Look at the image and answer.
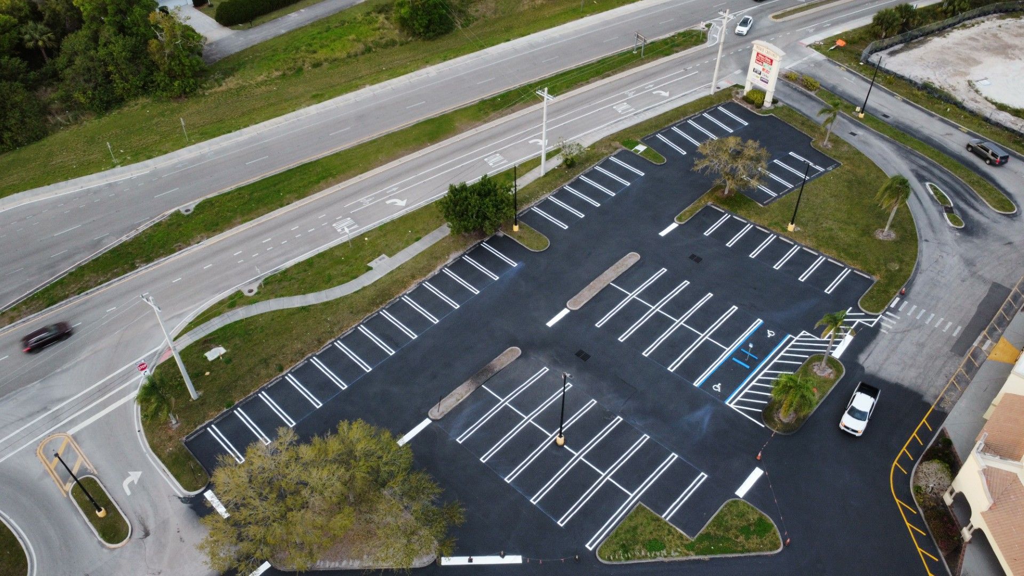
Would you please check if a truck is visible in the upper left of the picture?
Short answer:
No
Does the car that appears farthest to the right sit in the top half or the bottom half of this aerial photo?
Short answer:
top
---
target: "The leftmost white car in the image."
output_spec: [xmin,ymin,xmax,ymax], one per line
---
[736,15,754,34]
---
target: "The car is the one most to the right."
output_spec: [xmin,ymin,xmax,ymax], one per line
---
[965,137,1012,165]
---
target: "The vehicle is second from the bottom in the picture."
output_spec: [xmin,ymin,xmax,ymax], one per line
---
[17,319,73,353]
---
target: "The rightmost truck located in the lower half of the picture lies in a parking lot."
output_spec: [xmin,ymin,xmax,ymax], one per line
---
[840,381,885,440]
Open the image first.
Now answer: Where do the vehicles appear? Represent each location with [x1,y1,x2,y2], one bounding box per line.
[965,137,1012,165]
[736,15,754,34]
[840,381,885,440]
[17,319,73,353]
